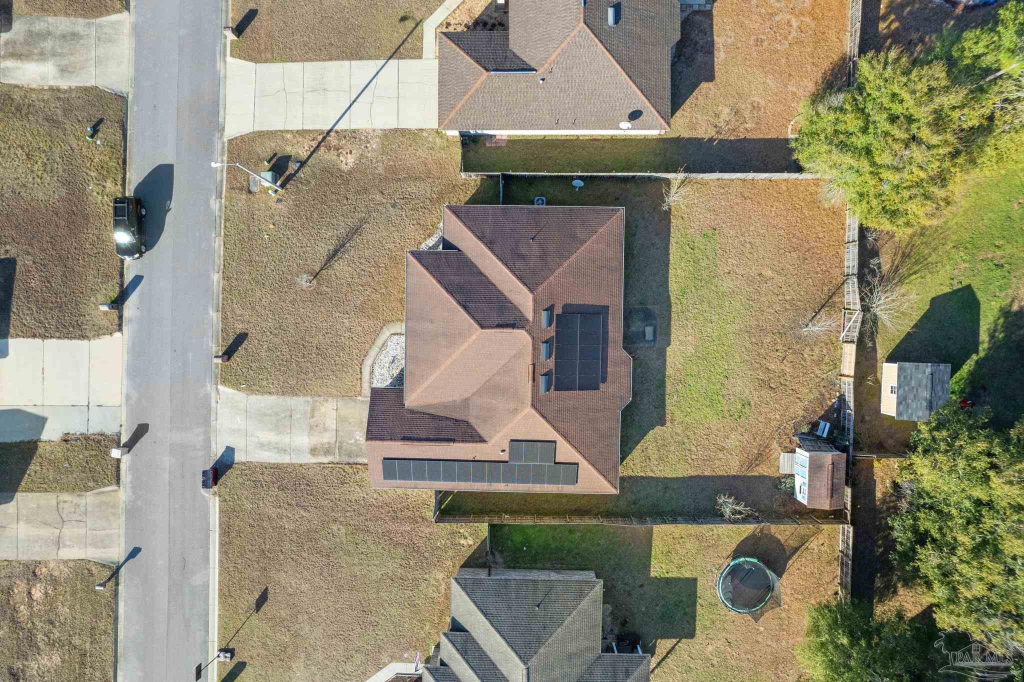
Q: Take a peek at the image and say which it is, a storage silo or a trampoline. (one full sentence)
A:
The image shows a trampoline.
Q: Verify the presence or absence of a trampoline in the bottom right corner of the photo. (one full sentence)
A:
Yes, a trampoline appears in the bottom right corner of the photo.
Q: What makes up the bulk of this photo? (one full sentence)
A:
The bulk of the photo consists of grass.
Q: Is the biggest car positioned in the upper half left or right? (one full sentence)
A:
The biggest car positioned in the upper half appears in the left half of the scene.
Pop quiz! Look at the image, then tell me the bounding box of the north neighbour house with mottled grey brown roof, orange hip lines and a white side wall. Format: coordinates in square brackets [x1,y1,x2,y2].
[437,0,681,136]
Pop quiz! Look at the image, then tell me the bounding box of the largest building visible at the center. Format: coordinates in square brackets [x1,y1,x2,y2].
[366,204,633,494]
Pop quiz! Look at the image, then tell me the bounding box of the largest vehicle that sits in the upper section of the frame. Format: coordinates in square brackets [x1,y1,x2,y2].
[115,198,150,262]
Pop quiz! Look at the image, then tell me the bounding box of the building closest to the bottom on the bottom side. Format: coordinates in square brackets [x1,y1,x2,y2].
[421,571,652,682]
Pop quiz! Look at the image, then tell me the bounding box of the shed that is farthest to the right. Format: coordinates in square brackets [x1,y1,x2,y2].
[882,363,951,421]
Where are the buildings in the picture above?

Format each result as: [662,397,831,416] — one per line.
[421,571,652,682]
[882,363,951,421]
[437,0,681,136]
[366,204,633,494]
[793,447,847,511]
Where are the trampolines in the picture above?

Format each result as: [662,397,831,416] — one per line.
[714,550,786,626]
